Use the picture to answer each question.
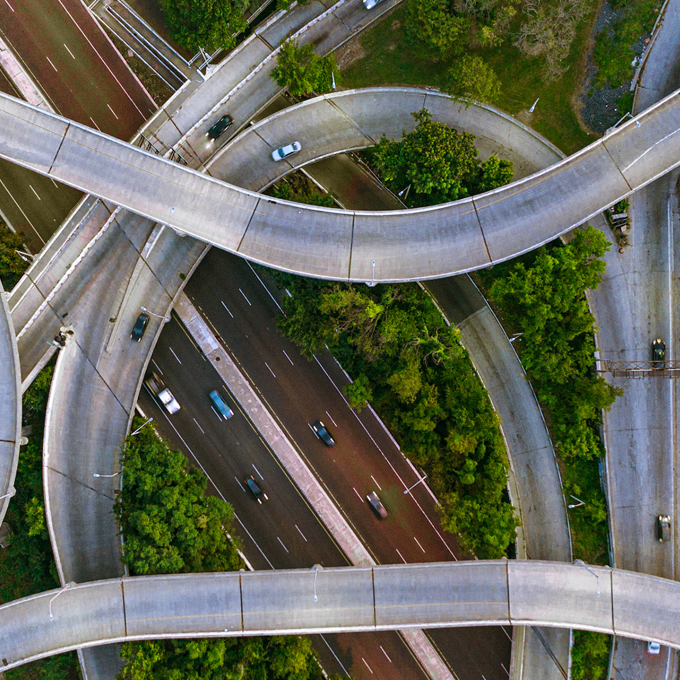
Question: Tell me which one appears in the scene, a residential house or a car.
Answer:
car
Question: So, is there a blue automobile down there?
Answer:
Yes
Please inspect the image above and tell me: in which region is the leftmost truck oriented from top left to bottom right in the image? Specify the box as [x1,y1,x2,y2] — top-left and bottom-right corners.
[146,372,179,413]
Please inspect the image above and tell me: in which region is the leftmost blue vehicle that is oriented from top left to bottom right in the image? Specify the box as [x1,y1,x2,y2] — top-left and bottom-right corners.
[208,389,234,420]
